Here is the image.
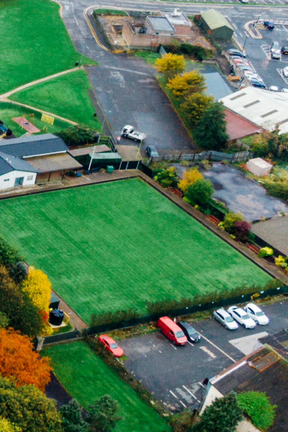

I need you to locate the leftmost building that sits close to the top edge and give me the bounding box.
[114,5,193,50]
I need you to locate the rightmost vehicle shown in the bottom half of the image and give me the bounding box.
[243,301,270,324]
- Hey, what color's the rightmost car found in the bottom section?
white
